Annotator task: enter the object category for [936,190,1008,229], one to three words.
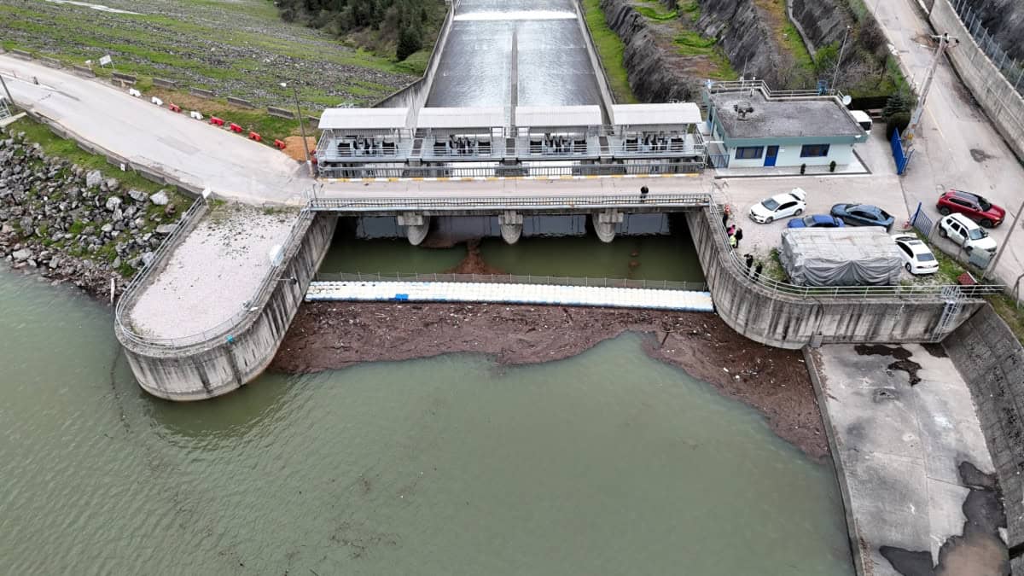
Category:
car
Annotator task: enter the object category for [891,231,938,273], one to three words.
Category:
car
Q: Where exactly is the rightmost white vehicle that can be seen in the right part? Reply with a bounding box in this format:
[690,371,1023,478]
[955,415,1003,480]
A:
[937,212,999,255]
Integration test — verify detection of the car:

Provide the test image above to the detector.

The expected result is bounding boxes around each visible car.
[937,212,999,255]
[936,190,1008,229]
[787,211,851,230]
[831,203,899,233]
[750,187,809,224]
[891,231,938,273]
